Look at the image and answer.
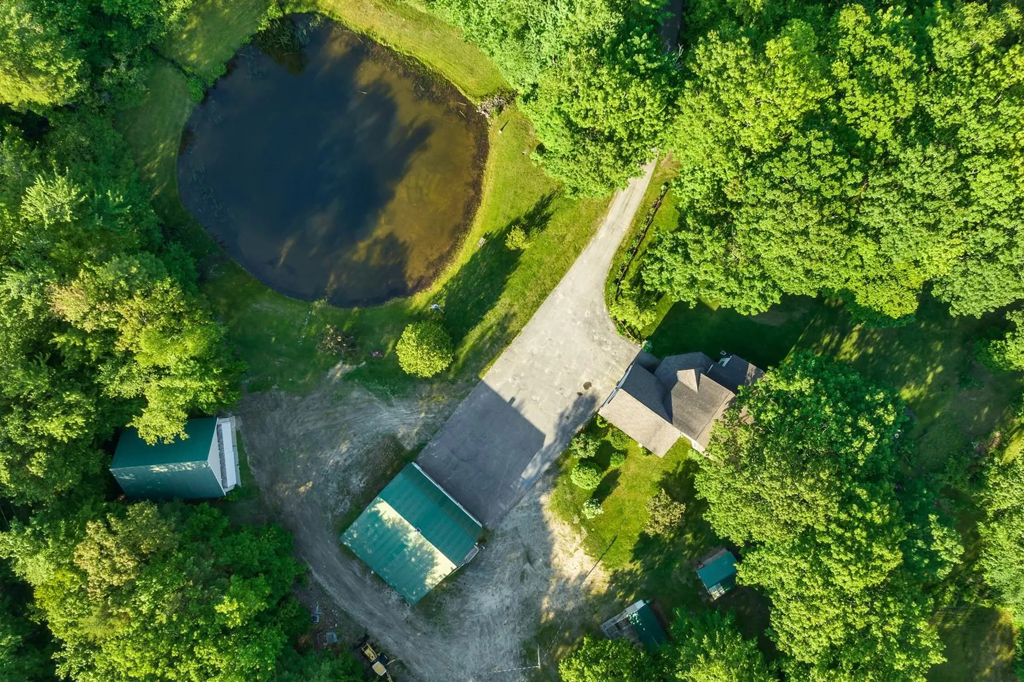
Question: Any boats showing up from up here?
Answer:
No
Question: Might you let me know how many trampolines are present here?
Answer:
none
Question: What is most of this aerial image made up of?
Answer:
trees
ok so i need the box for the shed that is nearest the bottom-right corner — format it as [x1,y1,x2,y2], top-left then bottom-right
[689,538,742,598]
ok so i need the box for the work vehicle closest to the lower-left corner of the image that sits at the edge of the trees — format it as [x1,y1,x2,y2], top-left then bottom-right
[355,622,402,682]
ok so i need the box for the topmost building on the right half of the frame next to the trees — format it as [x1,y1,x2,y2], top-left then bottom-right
[597,348,766,458]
